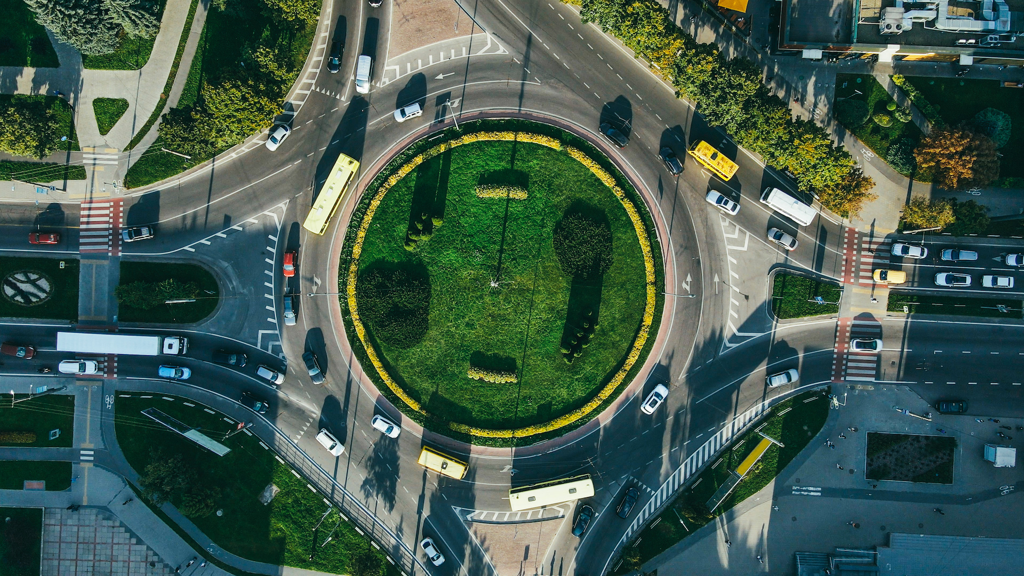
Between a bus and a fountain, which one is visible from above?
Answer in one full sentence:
The image shows a bus.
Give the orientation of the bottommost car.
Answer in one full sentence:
The bottommost car is oriented on a diagonal.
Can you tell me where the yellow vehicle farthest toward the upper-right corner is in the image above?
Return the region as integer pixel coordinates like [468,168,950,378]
[872,268,909,284]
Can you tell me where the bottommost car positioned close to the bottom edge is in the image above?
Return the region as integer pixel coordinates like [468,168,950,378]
[419,535,445,566]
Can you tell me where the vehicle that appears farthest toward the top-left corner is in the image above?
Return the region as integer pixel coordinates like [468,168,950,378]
[29,230,61,246]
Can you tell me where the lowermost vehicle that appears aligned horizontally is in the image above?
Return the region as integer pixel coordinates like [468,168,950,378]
[508,471,598,513]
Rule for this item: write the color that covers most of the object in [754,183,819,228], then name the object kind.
white bus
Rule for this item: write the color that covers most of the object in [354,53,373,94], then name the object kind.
white vehicle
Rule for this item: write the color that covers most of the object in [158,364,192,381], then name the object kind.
blue car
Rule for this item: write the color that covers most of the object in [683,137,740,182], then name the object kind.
yellow bus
